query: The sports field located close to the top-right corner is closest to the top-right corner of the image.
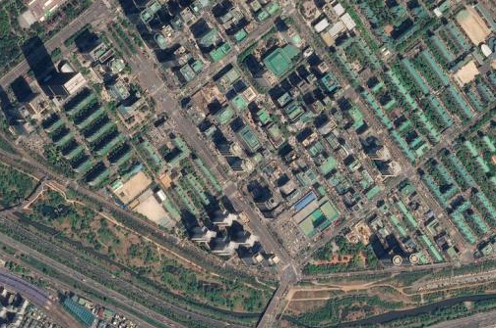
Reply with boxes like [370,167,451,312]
[456,5,493,45]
